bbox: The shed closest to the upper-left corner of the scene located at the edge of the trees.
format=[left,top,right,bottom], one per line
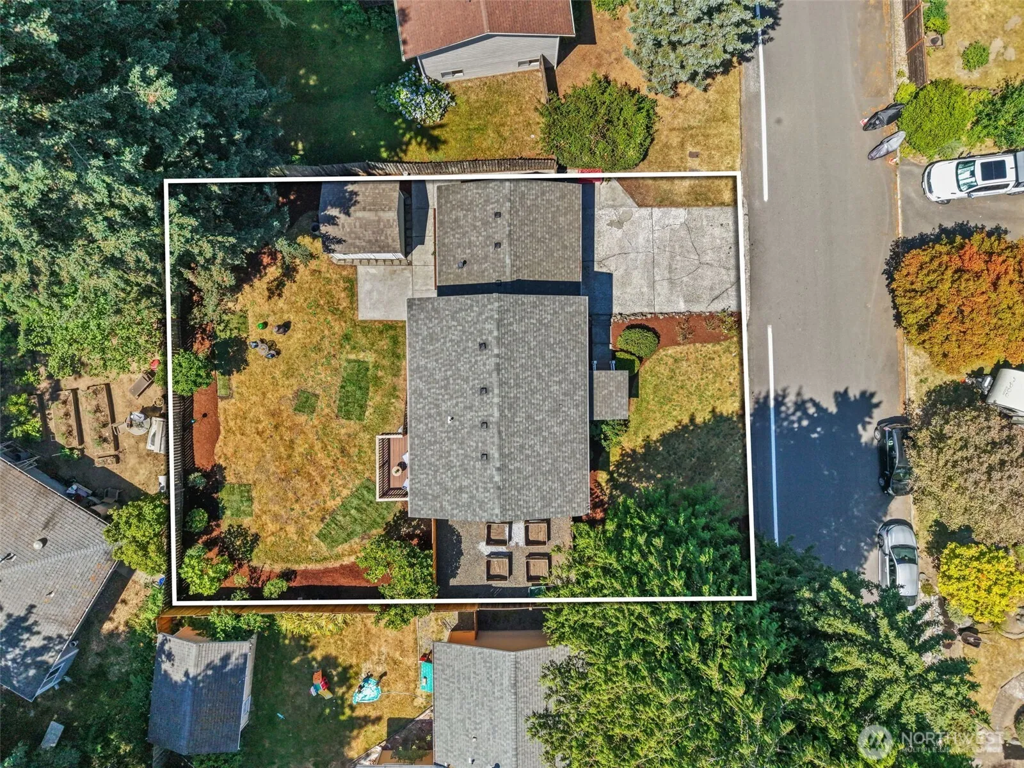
[316,176,405,259]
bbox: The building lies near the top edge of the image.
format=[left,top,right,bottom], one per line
[393,0,576,84]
